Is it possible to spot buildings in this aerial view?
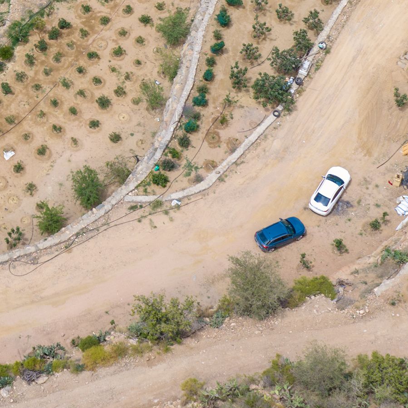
No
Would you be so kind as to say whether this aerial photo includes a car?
Yes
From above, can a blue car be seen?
Yes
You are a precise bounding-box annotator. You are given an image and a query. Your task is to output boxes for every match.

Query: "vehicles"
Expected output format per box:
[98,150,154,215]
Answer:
[255,216,307,251]
[312,166,351,216]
